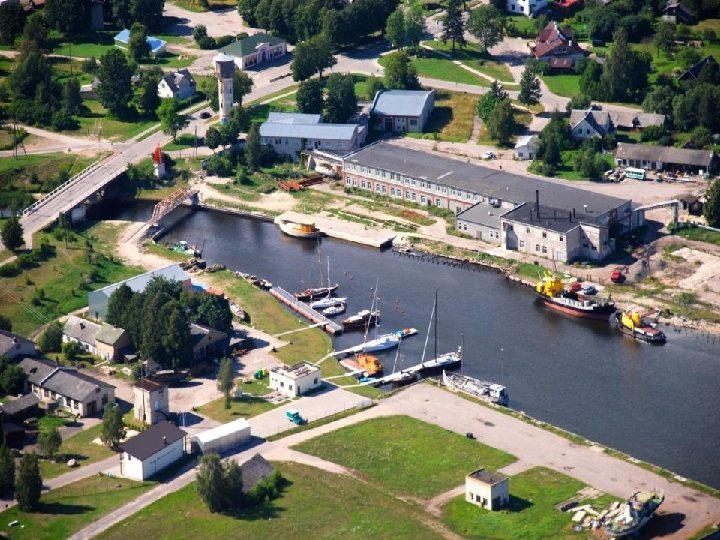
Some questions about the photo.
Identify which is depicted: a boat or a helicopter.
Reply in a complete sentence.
Visible in the photo is a boat.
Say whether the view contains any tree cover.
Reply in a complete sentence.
Yes, there's tree cover in this view.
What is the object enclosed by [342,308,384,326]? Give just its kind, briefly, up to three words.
boat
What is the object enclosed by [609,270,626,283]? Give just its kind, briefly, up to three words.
vehicle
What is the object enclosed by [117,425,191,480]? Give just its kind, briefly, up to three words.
building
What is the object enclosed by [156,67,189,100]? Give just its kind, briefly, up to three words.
house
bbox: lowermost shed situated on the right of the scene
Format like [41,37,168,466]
[466,468,510,511]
